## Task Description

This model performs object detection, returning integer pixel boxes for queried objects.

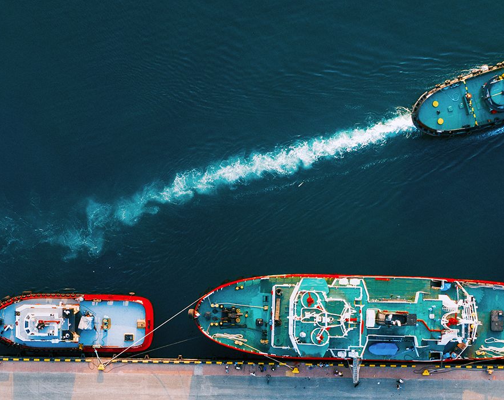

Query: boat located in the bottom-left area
[0,292,154,354]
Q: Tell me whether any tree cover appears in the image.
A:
No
